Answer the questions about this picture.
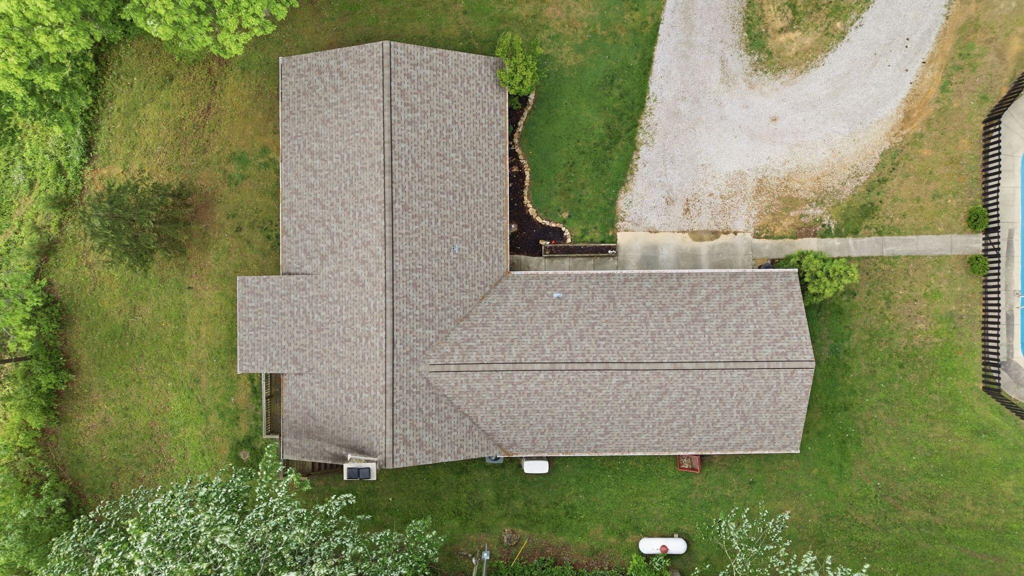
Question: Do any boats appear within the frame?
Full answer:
No, I can't see a single boat in this photo.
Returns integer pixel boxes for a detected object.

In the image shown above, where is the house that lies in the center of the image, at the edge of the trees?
[235,42,814,481]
